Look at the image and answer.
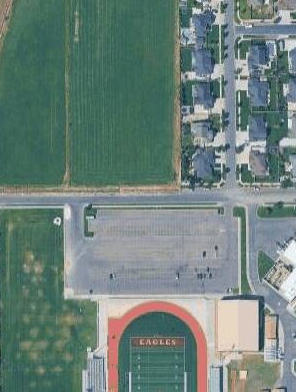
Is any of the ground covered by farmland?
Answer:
Yes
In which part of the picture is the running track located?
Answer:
bottom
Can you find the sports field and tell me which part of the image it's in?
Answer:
bottom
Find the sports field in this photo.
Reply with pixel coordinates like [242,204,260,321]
[118,313,196,392]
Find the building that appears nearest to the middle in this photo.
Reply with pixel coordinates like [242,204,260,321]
[192,150,215,178]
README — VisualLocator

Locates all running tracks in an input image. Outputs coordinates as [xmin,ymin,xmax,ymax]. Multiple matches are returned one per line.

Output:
[107,301,207,392]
